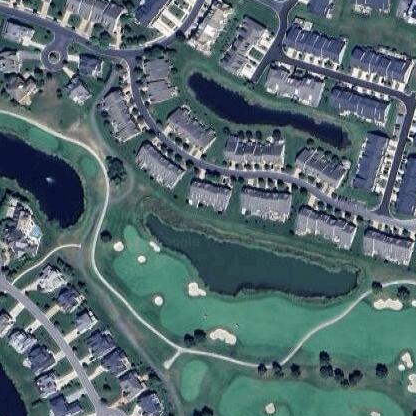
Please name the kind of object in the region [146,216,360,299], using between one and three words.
pond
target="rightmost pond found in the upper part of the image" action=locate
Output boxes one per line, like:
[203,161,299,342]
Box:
[187,71,353,147]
